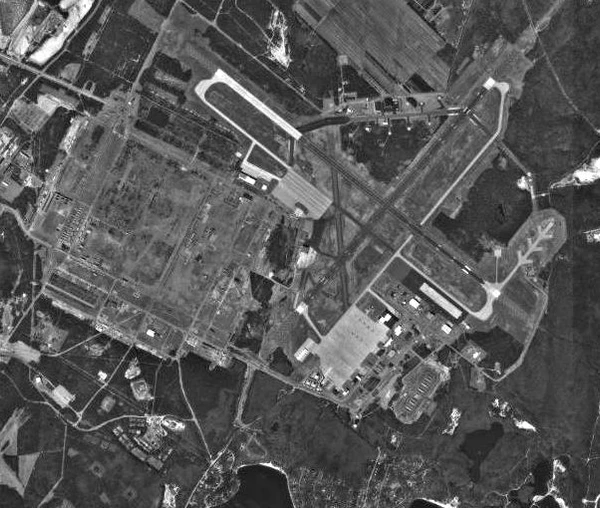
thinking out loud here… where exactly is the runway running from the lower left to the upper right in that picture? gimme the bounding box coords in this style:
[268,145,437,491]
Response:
[296,78,496,304]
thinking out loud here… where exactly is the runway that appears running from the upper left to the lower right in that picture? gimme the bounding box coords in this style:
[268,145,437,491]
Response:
[215,70,486,285]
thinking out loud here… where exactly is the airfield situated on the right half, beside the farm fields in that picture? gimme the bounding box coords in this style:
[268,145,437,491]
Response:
[195,70,553,390]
